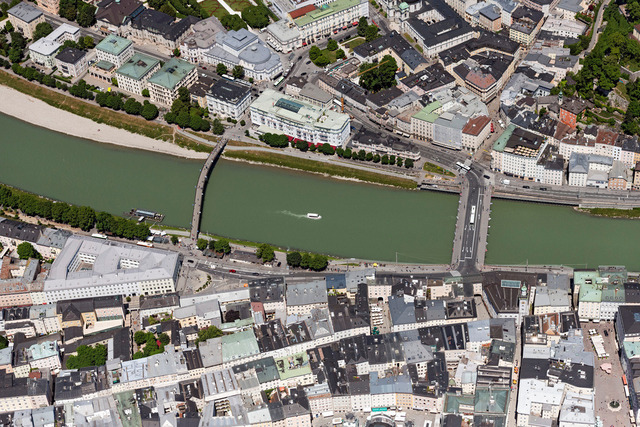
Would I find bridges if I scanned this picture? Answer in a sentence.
Yes, the photo shows a bridge.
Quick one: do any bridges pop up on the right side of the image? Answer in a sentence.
Yes, there is a bridge on the right side of the image.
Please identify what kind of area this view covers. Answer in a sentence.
This image shows a residential area.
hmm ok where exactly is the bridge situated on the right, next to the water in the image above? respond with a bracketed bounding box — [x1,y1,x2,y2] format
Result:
[449,180,493,271]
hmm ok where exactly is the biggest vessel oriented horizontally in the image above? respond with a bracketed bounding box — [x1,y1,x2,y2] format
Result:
[129,208,166,222]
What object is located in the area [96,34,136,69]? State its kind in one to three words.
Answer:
building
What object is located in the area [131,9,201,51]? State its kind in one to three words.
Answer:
building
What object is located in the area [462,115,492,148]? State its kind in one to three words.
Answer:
house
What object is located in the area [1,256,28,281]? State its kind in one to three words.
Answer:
house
